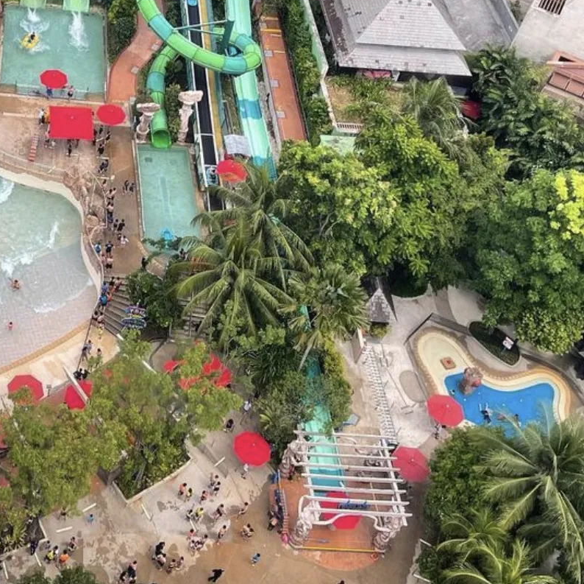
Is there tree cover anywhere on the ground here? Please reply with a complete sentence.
Yes, tree cover can be seen from above here.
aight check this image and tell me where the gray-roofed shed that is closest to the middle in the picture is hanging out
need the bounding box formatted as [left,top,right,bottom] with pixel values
[357,280,392,343]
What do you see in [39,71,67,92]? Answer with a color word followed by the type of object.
red umbrella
